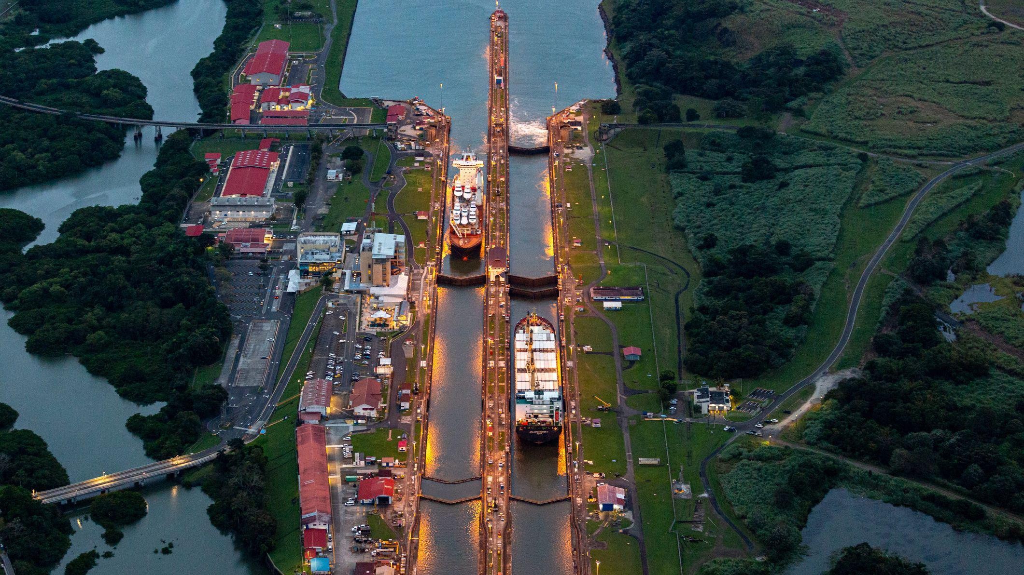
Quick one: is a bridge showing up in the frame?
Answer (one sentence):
Yes, the image includes a bridge.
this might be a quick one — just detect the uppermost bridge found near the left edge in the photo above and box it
[0,95,387,139]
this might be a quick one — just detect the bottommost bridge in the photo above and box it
[0,444,227,519]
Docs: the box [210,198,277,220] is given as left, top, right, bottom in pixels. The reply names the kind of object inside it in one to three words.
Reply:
building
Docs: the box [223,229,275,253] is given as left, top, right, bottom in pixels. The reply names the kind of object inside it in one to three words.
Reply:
building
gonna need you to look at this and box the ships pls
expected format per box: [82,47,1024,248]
[514,306,562,440]
[450,150,485,255]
